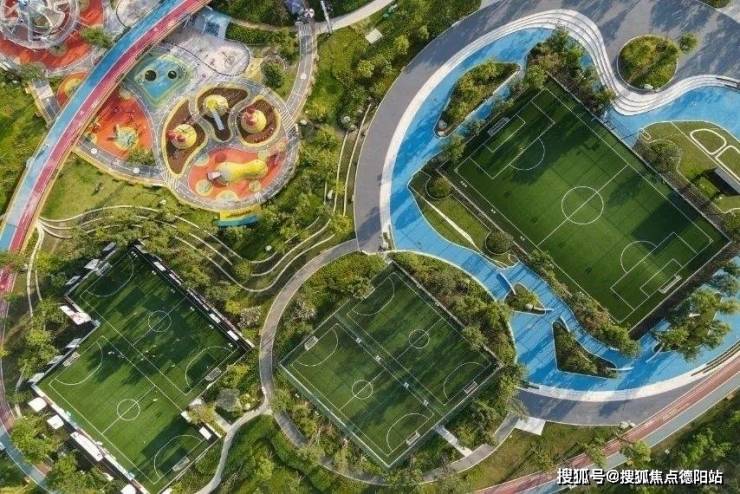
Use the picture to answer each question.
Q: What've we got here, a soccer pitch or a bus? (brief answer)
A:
soccer pitch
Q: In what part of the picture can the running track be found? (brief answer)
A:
bottom right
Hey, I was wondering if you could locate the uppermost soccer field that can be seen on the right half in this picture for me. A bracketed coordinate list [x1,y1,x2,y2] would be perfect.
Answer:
[438,72,731,335]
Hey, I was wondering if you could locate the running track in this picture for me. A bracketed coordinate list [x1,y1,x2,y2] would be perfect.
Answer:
[462,355,740,494]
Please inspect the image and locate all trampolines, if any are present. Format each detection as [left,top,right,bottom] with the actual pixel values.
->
[166,69,178,80]
[143,69,158,82]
